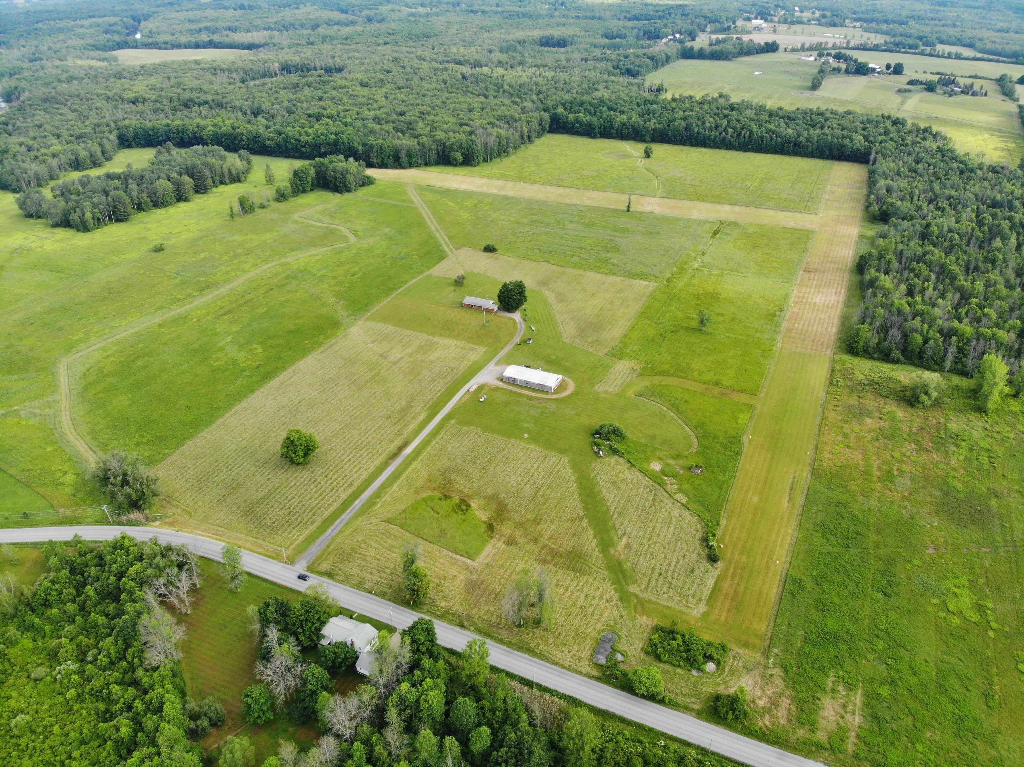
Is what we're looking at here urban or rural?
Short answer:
rural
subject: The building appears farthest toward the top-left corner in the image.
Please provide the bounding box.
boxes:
[462,295,499,312]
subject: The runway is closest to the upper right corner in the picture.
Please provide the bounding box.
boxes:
[782,162,867,353]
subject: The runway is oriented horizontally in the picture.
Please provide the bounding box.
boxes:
[367,168,819,230]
